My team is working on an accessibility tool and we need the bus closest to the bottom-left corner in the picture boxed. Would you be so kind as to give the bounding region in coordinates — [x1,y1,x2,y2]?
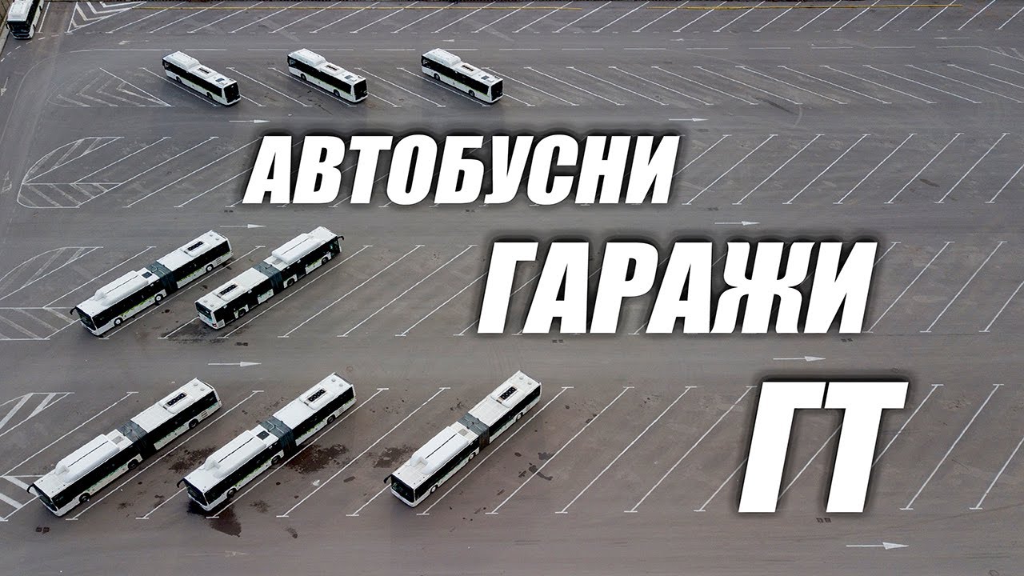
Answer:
[27,378,217,515]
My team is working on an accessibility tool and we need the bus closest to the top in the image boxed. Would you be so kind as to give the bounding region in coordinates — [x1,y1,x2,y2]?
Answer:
[5,0,44,38]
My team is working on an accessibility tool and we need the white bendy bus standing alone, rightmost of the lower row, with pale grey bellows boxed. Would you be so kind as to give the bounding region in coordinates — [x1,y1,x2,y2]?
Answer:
[384,371,540,506]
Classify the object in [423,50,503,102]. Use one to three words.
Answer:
bus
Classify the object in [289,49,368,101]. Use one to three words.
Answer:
bus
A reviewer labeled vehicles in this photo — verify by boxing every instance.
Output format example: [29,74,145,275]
[165,52,240,104]
[423,50,503,102]
[71,231,231,334]
[198,227,344,330]
[27,378,217,515]
[384,371,540,506]
[5,0,44,38]
[289,49,368,101]
[178,373,354,508]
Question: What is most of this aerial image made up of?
paved ground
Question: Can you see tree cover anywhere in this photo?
No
